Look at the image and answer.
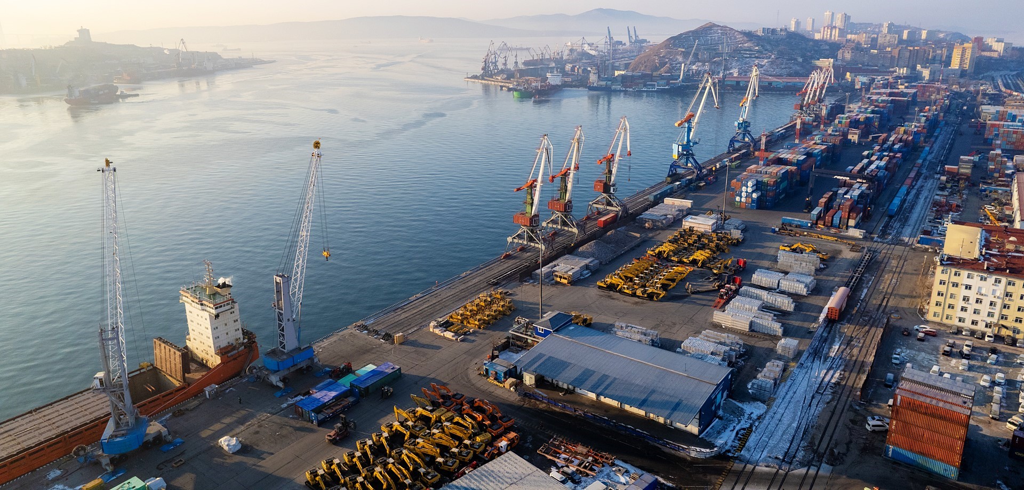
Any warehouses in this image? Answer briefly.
Yes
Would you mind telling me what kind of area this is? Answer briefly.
port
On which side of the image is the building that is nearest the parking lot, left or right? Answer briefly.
right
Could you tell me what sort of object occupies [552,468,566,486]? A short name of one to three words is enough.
car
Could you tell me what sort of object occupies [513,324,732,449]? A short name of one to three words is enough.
warehouse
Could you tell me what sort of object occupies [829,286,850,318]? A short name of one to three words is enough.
rail car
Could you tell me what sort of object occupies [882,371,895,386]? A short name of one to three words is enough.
vehicle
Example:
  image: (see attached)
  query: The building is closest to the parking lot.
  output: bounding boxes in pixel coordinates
[927,251,1024,340]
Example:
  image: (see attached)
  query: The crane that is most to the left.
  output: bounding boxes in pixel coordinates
[65,162,175,474]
